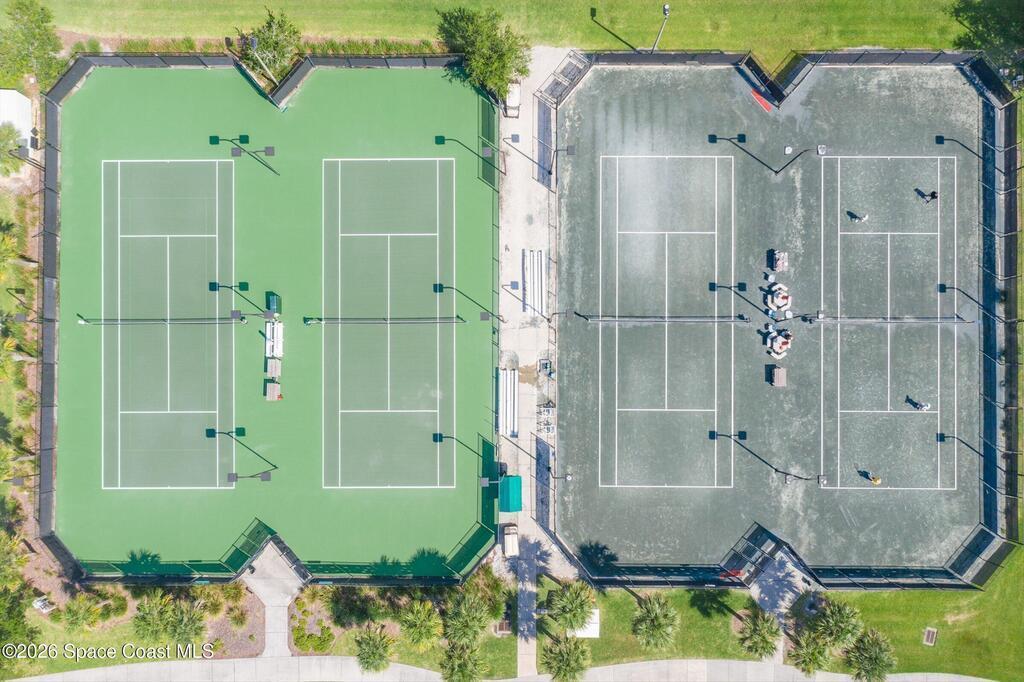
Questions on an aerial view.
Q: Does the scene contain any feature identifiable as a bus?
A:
No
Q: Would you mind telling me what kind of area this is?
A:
sports ground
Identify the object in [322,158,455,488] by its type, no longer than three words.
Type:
tennis court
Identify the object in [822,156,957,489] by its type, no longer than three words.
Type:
tennis court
